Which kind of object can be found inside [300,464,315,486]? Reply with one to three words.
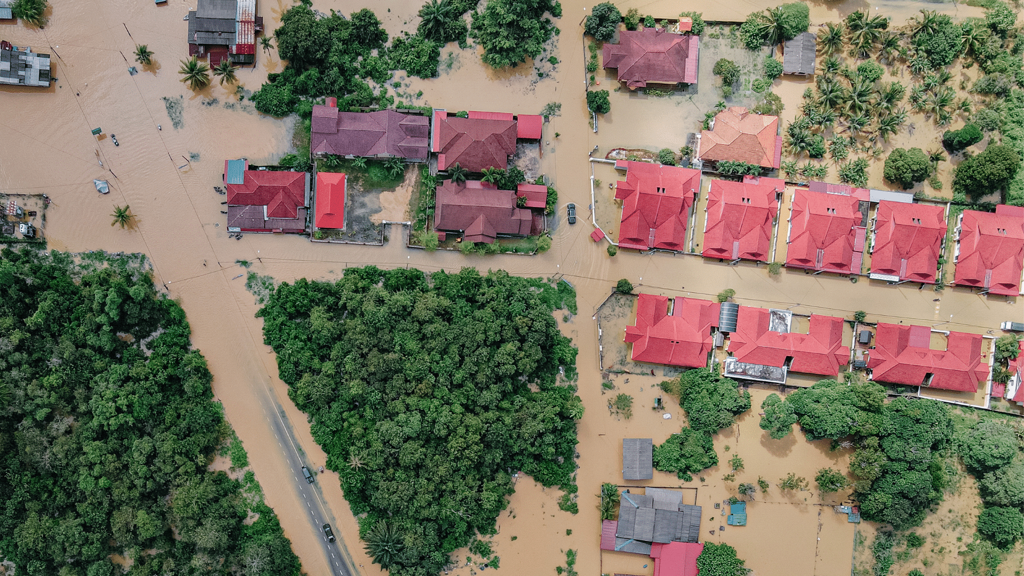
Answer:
vehicle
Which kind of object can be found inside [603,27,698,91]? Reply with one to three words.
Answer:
house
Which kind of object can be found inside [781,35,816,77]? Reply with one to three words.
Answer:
shed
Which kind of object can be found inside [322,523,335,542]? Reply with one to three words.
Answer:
vehicle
